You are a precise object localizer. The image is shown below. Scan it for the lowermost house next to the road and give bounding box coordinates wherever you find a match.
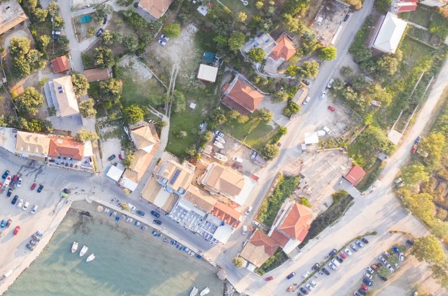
[236,229,281,268]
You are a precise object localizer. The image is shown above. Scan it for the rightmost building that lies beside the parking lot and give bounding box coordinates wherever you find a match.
[265,201,315,256]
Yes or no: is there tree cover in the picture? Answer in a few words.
Yes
